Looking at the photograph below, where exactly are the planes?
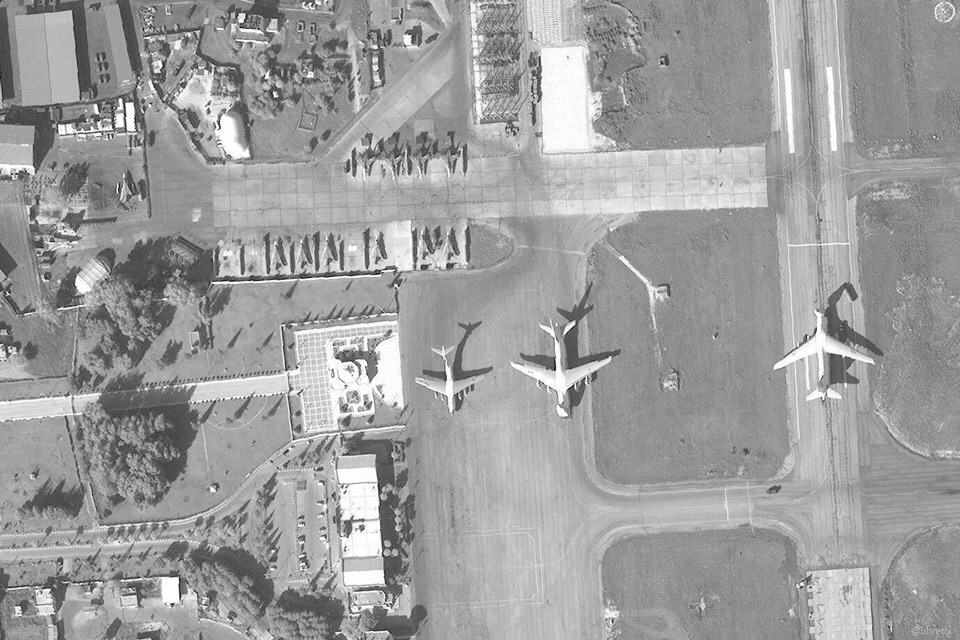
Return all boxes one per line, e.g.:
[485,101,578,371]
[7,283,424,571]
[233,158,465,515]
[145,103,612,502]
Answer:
[413,344,484,413]
[409,147,430,179]
[438,145,459,176]
[269,243,283,273]
[442,233,456,263]
[509,322,614,417]
[295,241,309,271]
[770,309,874,401]
[352,149,374,180]
[415,232,429,262]
[382,148,403,179]
[370,233,384,263]
[116,174,129,203]
[321,238,335,267]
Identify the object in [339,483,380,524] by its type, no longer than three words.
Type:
building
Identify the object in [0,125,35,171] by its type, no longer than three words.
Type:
hangar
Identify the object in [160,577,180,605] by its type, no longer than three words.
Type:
house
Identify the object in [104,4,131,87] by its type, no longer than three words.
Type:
shed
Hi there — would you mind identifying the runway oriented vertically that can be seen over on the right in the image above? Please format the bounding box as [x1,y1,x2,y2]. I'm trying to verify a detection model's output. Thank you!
[747,0,872,562]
